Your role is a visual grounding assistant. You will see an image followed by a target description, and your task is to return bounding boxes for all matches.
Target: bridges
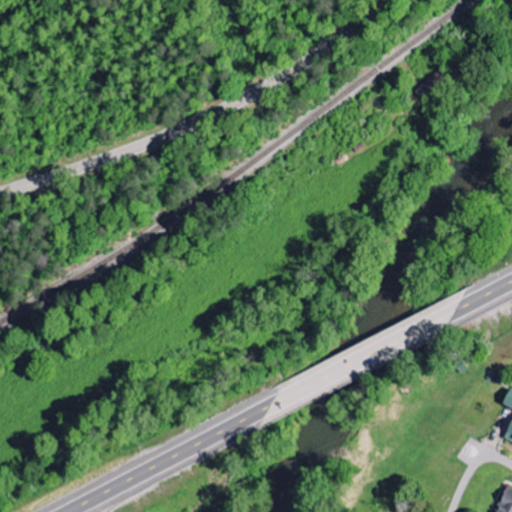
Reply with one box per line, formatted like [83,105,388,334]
[256,283,474,431]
